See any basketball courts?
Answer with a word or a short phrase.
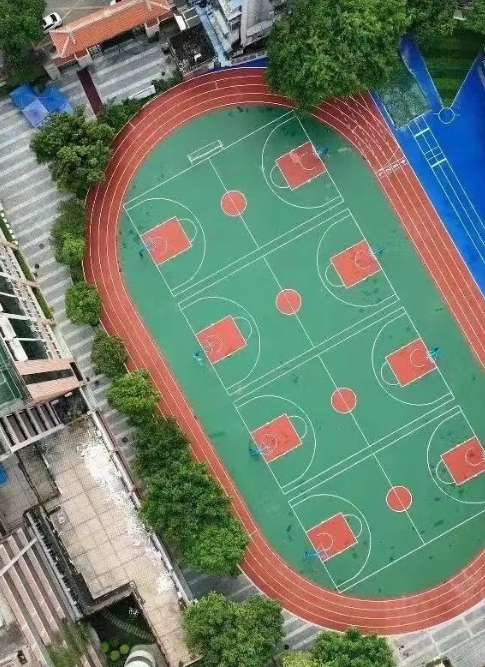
Yes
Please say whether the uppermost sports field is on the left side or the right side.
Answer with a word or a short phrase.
right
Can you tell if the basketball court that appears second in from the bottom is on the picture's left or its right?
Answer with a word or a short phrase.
right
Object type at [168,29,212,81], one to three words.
shed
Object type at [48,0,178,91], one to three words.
building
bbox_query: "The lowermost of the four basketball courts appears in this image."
[286,404,485,594]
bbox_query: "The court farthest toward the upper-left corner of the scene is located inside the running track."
[121,108,347,298]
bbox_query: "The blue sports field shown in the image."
[365,2,485,298]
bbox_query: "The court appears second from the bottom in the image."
[231,305,457,496]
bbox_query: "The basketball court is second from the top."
[176,206,402,397]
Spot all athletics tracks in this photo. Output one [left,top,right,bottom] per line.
[79,48,485,636]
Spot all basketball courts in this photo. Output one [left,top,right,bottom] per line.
[176,206,402,397]
[121,108,347,298]
[286,404,485,594]
[231,305,457,496]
